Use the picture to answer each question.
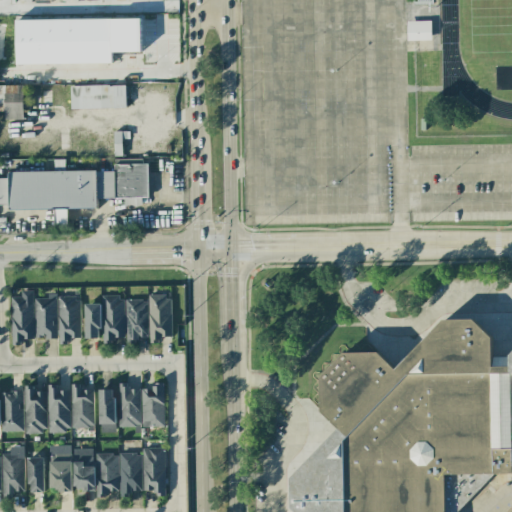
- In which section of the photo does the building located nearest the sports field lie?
top right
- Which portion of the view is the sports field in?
top right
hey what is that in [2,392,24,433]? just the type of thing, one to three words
house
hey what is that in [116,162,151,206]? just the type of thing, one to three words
building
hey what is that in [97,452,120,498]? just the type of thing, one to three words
house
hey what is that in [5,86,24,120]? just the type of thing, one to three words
shed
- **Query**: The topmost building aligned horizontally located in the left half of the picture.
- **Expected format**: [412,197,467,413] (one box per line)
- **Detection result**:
[14,18,142,64]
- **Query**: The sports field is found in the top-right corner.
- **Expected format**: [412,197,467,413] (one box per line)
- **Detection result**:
[459,0,512,102]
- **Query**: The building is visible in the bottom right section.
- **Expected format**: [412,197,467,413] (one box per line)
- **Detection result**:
[289,318,512,512]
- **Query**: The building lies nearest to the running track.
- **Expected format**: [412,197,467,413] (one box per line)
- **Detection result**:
[408,21,432,41]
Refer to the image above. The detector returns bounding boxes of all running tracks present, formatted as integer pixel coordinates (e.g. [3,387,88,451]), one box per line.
[442,0,512,120]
